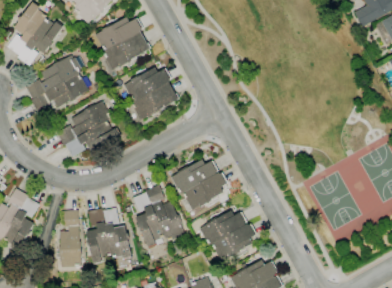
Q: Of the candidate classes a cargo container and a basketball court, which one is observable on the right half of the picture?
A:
basketball court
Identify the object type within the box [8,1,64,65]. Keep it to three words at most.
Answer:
house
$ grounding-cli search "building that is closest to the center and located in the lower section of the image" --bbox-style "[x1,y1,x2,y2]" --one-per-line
[173,157,228,210]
